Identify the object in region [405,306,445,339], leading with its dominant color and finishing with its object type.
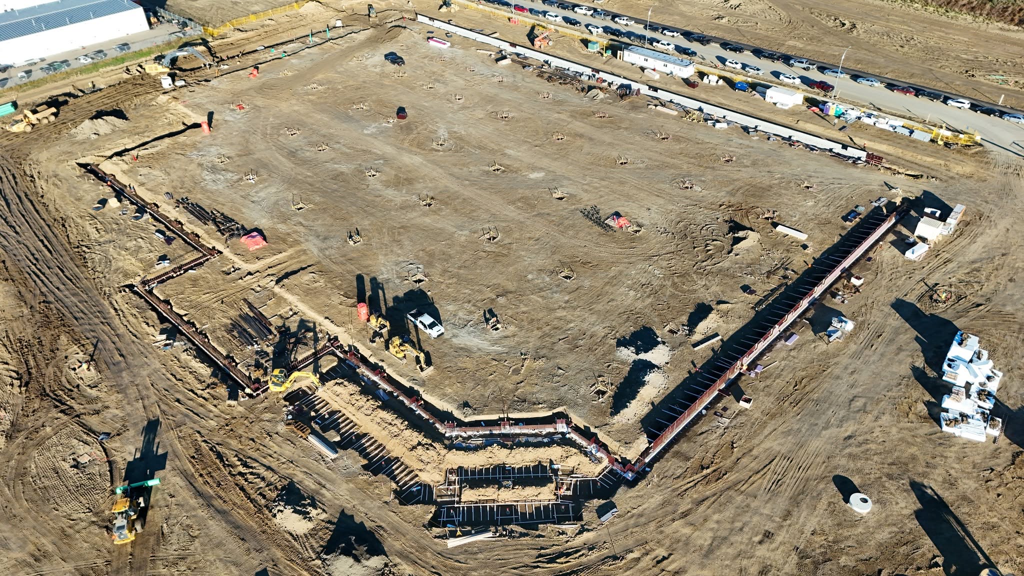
white truck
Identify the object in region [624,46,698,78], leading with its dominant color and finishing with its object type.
white trailer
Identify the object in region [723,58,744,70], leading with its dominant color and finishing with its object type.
white vehicle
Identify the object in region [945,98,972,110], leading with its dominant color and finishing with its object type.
white vehicle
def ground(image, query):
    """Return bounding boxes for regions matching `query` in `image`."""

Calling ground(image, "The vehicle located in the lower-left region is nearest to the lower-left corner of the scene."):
[107,487,149,546]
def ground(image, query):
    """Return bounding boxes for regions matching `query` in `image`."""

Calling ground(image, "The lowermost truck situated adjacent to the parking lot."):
[0,100,55,135]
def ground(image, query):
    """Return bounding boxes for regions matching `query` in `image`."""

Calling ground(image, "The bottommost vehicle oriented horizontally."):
[267,369,328,397]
